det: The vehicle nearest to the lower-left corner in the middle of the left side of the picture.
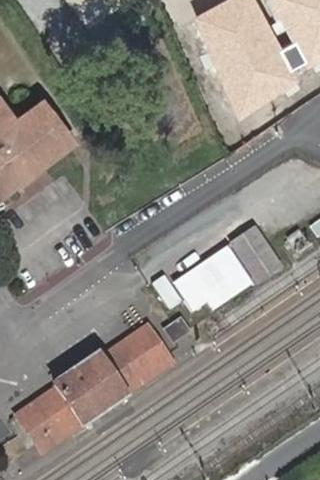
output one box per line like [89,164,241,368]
[20,270,36,290]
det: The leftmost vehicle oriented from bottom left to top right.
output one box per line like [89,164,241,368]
[116,218,138,236]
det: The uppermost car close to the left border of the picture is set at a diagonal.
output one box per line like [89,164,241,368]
[6,208,24,230]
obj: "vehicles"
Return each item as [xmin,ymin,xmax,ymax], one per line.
[175,253,200,272]
[56,244,74,266]
[162,190,184,208]
[116,218,138,236]
[84,216,100,236]
[65,235,84,257]
[74,226,92,248]
[6,208,24,230]
[140,203,162,221]
[20,270,36,290]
